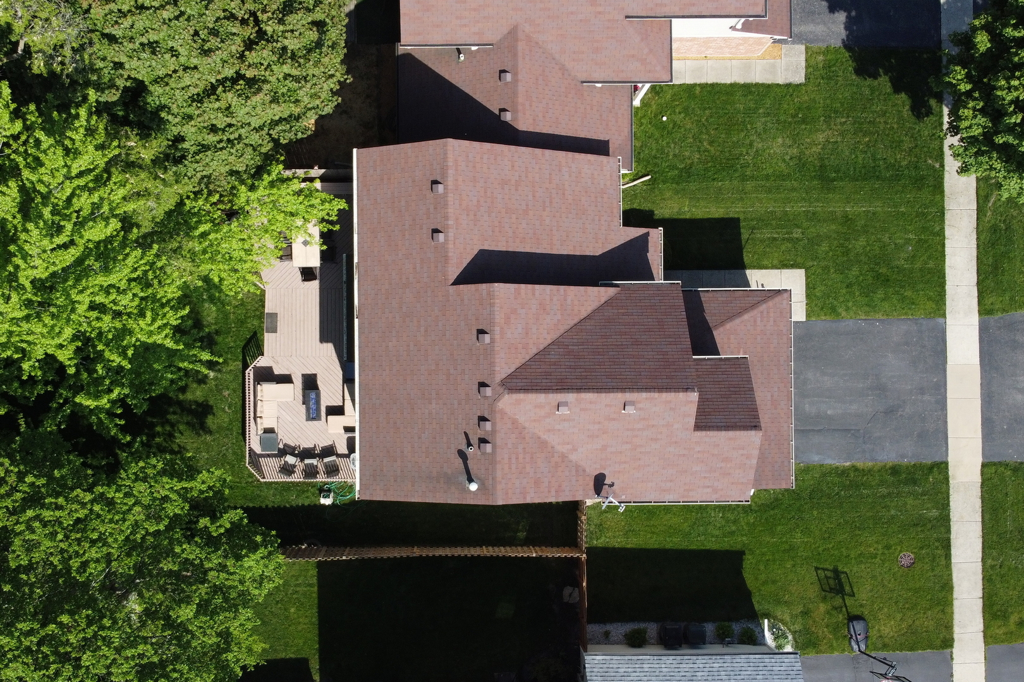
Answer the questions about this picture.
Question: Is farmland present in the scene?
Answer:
No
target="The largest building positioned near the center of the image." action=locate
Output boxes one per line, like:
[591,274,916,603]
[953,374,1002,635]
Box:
[347,139,795,505]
